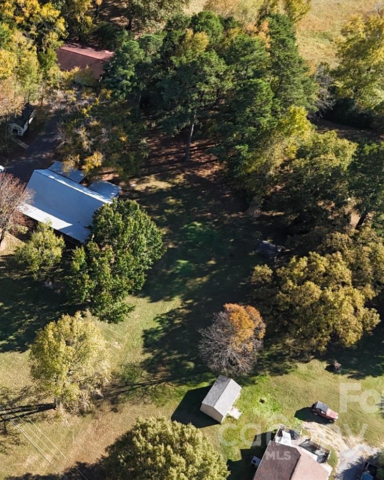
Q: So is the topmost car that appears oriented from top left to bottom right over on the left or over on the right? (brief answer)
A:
right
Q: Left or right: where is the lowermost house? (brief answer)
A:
right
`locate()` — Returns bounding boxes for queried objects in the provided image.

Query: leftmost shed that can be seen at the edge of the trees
[6,103,36,138]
